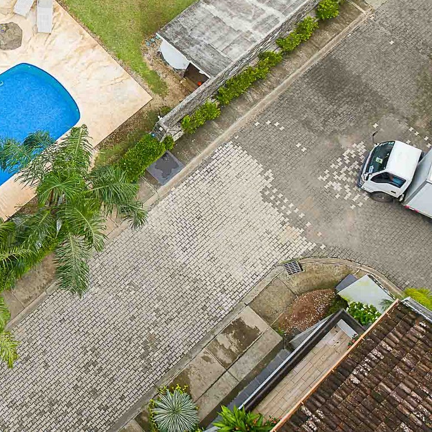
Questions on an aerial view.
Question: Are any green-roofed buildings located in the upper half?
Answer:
No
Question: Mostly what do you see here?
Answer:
paved ground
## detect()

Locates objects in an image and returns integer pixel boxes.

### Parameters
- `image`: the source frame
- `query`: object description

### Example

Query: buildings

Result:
[210,290,432,432]
[157,0,302,101]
